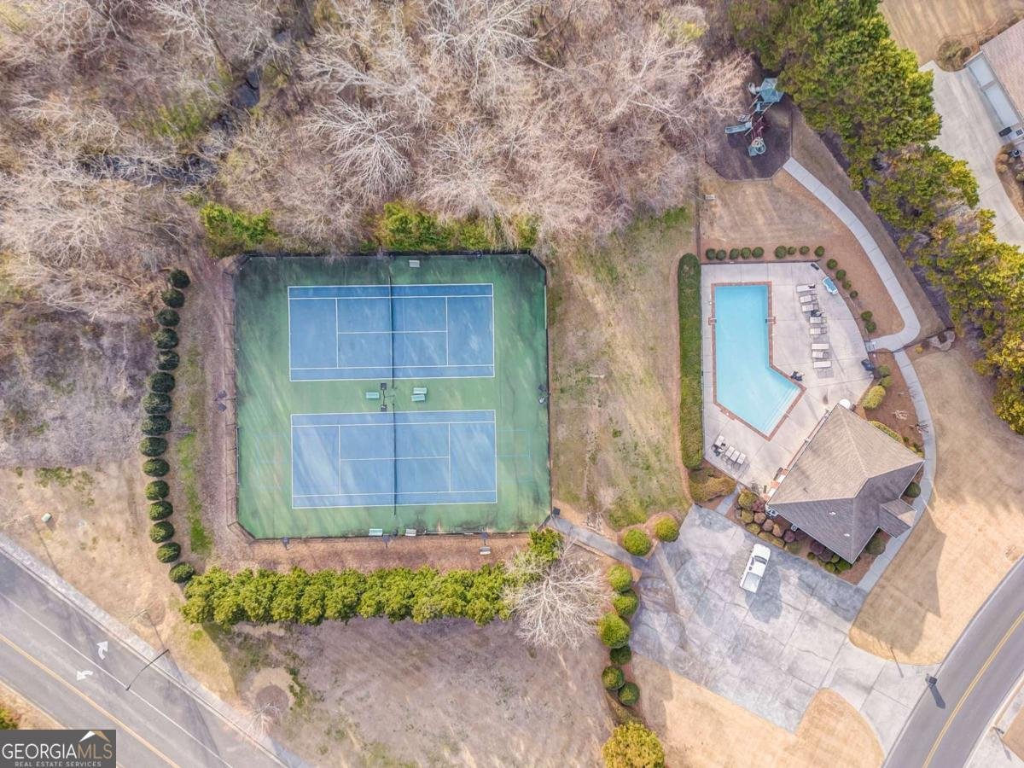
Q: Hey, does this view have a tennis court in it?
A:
Yes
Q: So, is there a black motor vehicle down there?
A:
No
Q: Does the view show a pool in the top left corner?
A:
No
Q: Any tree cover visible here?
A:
Yes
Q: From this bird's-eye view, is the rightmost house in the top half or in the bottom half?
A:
top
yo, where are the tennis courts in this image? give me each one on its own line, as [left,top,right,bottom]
[232,254,549,396]
[235,396,550,539]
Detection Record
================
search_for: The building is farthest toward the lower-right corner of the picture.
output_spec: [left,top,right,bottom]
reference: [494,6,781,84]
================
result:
[766,402,924,565]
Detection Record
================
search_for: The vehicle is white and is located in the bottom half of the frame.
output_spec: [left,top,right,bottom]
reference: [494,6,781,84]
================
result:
[740,544,771,593]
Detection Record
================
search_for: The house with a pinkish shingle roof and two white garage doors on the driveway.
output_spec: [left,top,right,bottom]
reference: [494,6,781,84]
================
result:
[965,25,1024,167]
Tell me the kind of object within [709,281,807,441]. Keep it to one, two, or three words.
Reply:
swimming pool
